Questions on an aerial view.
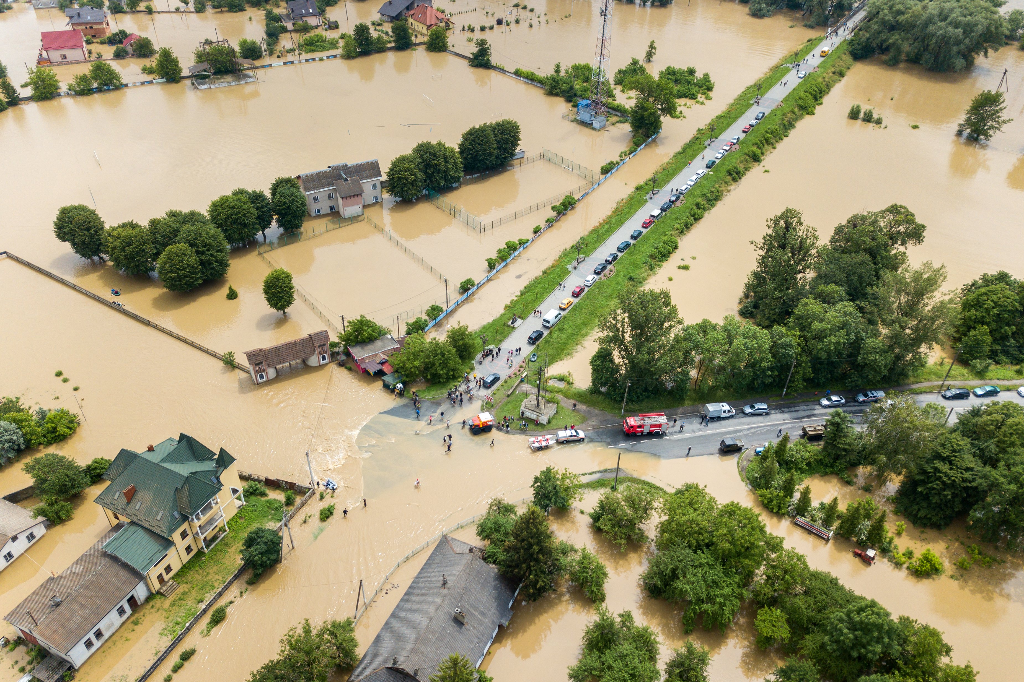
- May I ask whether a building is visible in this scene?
Yes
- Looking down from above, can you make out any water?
Yes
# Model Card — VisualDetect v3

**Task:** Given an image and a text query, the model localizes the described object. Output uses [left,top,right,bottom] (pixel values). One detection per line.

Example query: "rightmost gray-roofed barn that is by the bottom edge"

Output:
[346,535,526,682]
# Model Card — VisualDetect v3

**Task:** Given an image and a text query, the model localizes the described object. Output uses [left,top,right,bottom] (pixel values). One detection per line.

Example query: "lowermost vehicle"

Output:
[842,548,876,571]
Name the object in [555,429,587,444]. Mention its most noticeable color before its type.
white vehicle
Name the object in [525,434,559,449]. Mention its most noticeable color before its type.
white boat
